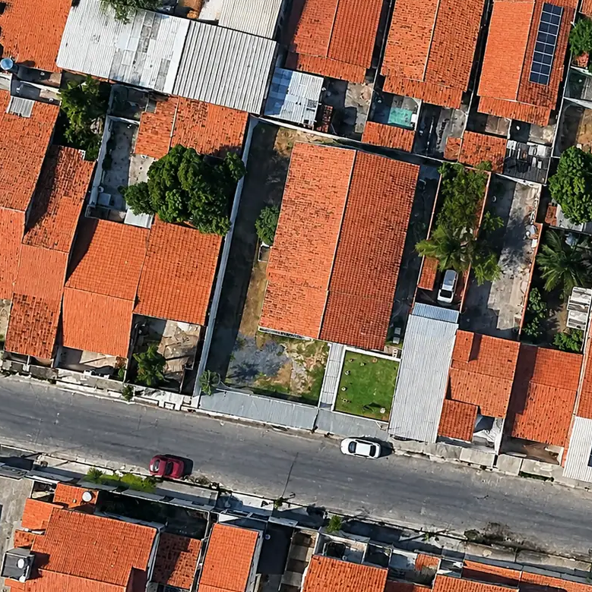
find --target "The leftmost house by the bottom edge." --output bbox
[8,478,163,592]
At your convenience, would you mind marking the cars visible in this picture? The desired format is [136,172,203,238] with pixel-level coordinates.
[149,457,186,477]
[435,266,458,306]
[342,438,382,458]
